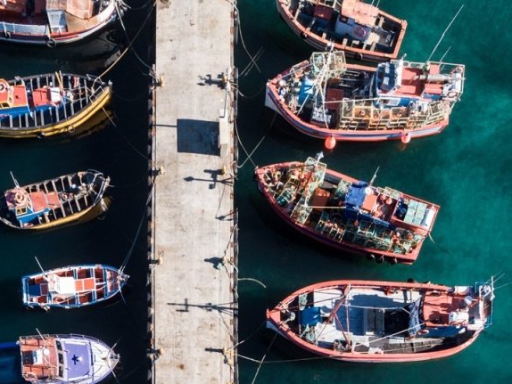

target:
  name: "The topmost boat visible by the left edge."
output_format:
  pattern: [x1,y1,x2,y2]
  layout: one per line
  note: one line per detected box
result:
[0,0,120,50]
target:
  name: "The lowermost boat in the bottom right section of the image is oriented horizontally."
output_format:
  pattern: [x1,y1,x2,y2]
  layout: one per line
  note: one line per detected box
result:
[266,271,511,364]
